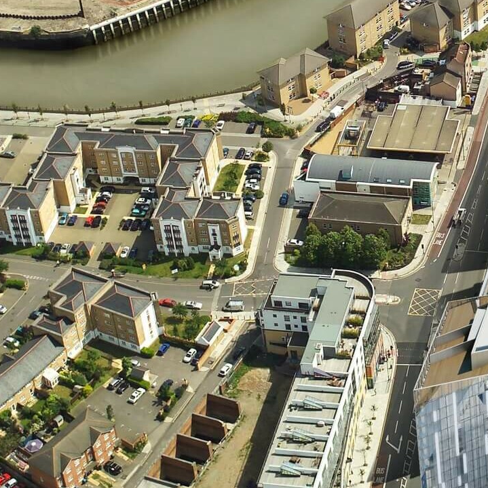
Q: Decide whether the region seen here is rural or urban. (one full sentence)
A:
The land in this view is best described as urban.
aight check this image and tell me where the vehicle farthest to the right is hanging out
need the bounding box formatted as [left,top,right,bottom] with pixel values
[451,203,466,224]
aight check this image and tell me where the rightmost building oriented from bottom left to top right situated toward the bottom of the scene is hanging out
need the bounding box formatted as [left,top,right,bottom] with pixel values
[192,318,228,353]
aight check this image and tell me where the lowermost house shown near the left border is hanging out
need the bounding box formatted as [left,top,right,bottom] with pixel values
[24,409,122,488]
